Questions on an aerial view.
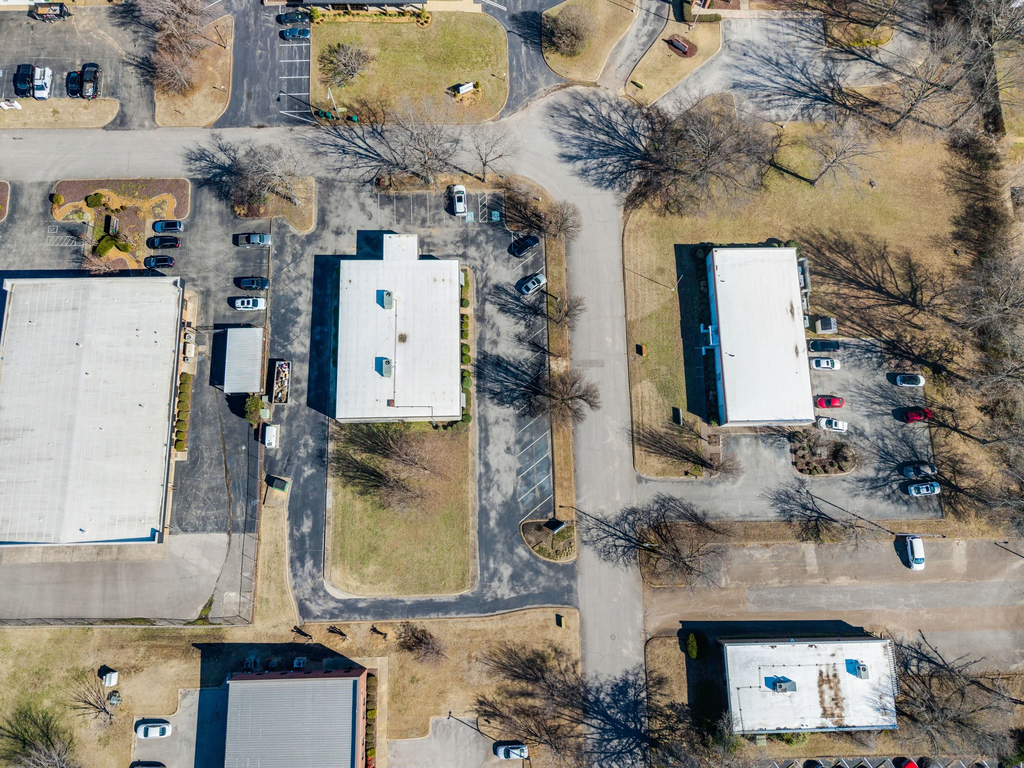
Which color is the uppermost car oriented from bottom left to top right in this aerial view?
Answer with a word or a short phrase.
black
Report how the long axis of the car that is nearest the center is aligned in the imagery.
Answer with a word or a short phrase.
diagonally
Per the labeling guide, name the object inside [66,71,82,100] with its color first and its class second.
black car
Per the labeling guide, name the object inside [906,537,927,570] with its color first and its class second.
white vehicle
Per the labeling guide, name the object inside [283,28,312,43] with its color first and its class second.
blue car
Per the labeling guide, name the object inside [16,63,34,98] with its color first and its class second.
black vehicle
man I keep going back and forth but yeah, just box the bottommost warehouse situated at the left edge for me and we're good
[0,277,188,545]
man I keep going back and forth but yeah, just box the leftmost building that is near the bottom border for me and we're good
[224,670,367,768]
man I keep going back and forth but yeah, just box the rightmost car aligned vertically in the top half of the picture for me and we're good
[453,187,467,216]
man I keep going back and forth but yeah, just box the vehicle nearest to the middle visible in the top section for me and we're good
[520,274,547,296]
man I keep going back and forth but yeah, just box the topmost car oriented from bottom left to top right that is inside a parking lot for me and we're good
[513,236,540,259]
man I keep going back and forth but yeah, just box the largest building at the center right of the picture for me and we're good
[691,248,815,423]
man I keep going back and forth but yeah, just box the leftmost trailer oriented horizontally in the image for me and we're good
[28,2,72,22]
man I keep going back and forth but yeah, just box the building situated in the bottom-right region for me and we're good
[718,634,902,733]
